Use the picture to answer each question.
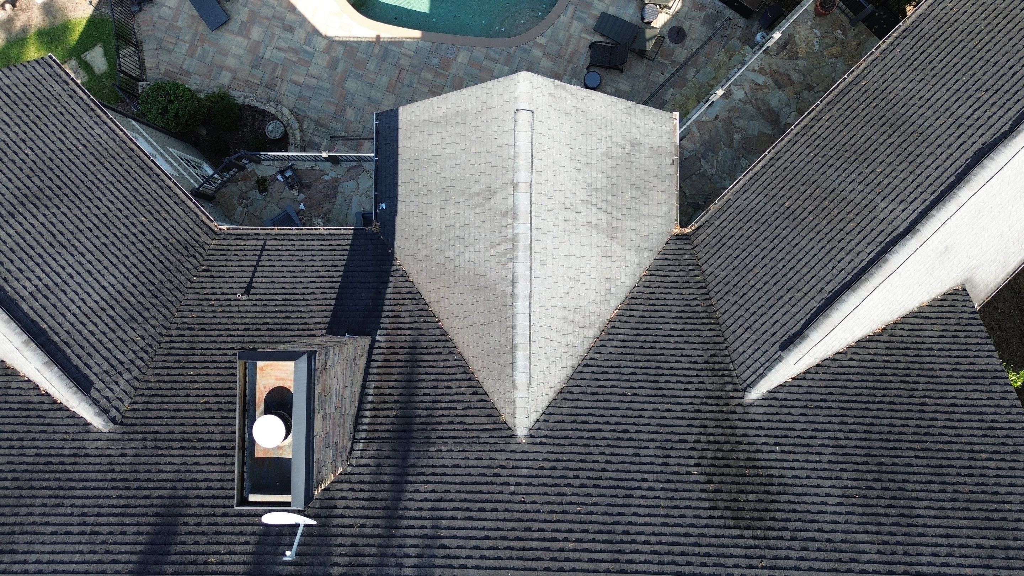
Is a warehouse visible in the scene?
No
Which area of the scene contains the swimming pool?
top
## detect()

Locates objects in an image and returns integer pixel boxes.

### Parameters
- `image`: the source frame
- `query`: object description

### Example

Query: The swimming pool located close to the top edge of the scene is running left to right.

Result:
[348,0,558,37]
